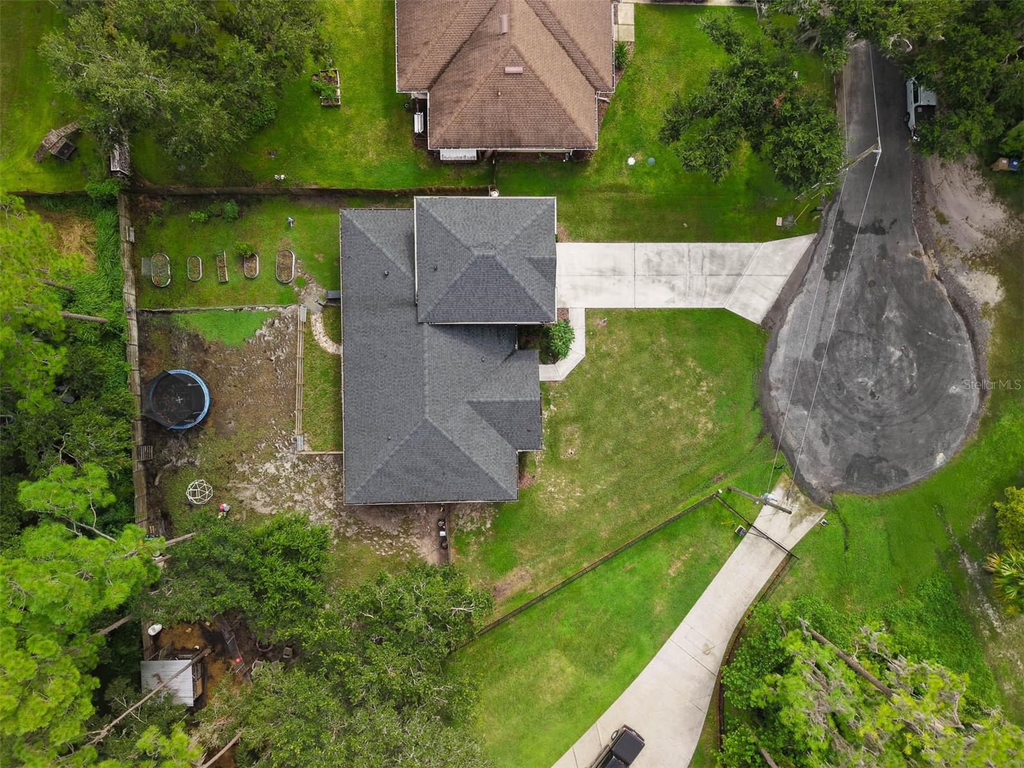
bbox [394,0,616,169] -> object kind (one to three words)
house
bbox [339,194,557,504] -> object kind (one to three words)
house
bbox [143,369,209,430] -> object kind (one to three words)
trampoline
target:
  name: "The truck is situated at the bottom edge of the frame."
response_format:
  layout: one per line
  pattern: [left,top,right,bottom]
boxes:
[591,722,645,768]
